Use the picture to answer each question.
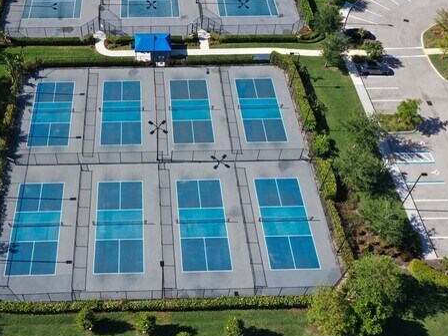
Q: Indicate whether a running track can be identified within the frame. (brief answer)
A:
No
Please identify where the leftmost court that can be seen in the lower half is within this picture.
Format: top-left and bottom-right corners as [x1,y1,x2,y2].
[4,182,64,275]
